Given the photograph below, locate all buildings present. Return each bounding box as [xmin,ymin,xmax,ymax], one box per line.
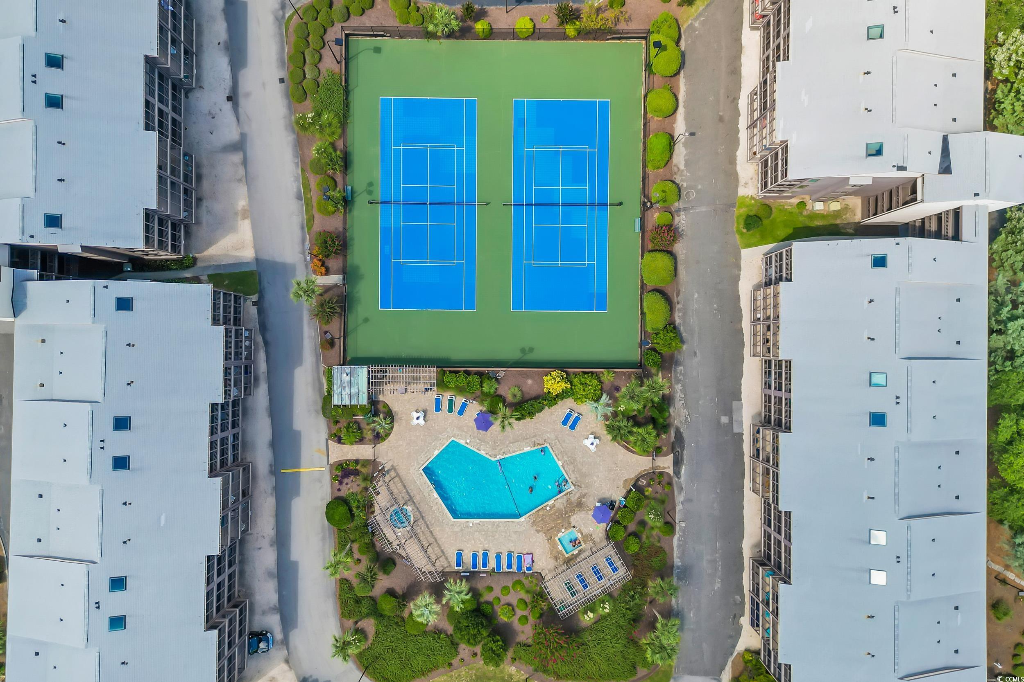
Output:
[745,0,985,205]
[11,277,258,682]
[332,365,372,408]
[747,236,987,682]
[0,0,199,264]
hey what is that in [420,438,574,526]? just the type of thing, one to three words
swimming pool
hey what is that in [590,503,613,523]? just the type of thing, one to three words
umbrella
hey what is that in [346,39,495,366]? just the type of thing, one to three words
tennis court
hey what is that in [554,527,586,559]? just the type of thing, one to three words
swimming pool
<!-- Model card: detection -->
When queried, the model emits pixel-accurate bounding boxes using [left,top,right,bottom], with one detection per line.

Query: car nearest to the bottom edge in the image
[250,635,277,657]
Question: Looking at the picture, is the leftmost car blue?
Yes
